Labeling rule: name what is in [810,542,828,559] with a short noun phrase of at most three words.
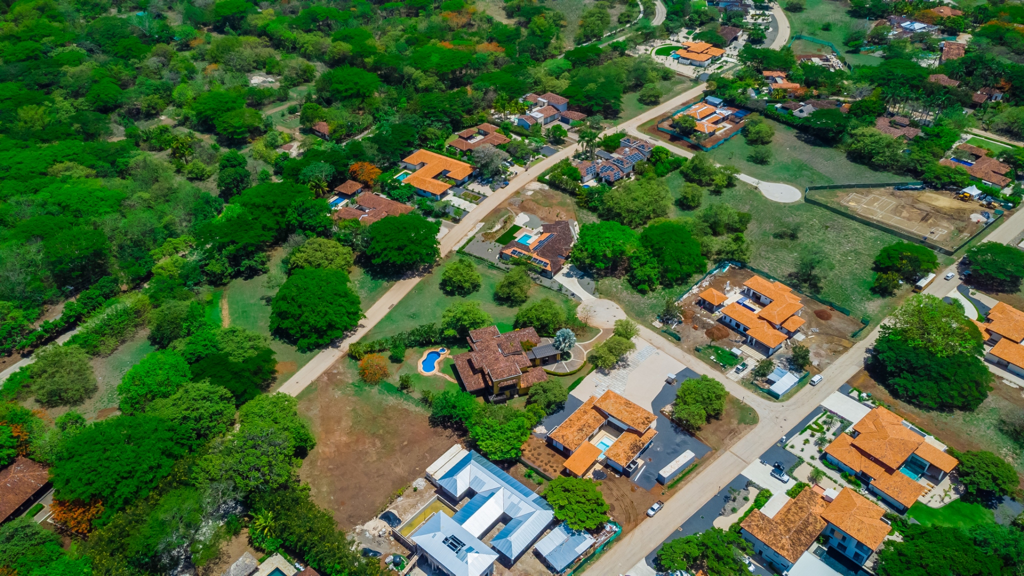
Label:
swimming pool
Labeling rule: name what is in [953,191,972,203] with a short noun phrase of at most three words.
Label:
vehicle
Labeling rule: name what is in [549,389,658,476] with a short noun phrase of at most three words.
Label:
house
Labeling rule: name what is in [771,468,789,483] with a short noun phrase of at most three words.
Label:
car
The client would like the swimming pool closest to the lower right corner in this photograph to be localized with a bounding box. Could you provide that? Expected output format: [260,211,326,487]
[898,460,927,482]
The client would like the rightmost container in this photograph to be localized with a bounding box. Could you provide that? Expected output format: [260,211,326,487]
[657,450,695,485]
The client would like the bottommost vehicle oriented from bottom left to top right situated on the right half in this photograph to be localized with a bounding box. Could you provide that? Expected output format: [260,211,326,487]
[646,500,666,516]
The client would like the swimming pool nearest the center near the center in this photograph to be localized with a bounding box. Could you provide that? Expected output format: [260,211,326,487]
[515,231,534,245]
